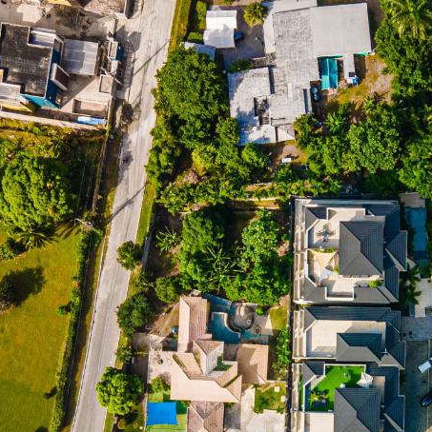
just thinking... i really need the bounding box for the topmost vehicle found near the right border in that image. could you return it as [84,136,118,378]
[417,356,432,374]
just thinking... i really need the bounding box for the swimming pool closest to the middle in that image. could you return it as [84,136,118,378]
[206,294,231,312]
